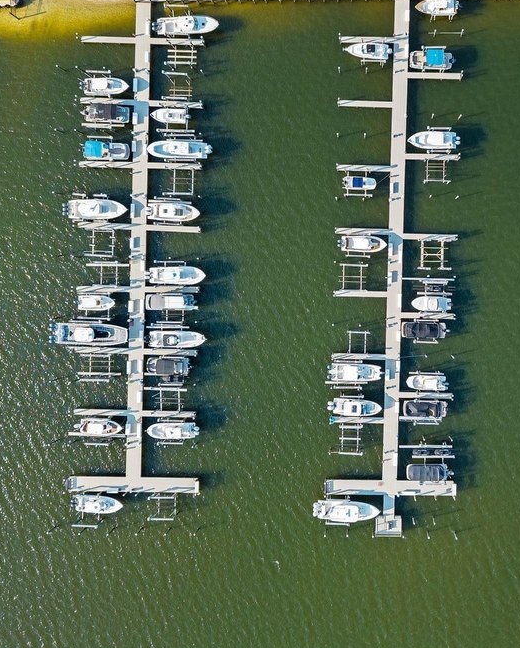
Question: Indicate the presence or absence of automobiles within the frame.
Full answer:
No, no automobile is visible in the view.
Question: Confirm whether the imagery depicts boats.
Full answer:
Yes, there's a boat here.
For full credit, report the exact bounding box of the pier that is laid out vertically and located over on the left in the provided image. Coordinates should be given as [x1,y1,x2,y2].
[67,1,208,496]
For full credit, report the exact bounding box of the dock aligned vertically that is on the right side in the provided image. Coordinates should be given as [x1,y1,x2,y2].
[324,0,466,540]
